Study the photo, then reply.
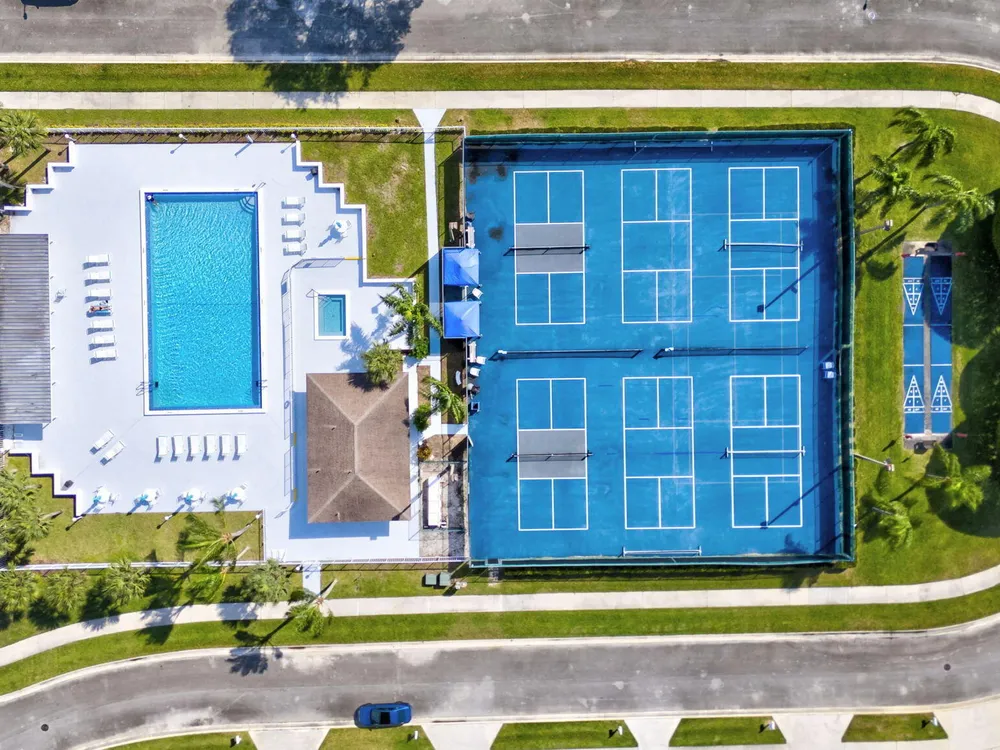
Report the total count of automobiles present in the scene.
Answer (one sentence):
I count 1 automobile.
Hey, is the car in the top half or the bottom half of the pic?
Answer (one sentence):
It is in the bottom half that the car appears.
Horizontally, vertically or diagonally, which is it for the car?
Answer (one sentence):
I'd say the car is aligned horizontally in the picture.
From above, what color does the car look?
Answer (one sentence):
The car looks blue in the image.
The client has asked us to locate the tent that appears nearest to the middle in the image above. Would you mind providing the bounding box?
[444,302,481,340]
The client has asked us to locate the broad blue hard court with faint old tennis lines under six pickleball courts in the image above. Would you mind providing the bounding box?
[446,138,841,558]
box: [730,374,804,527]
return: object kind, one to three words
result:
sports court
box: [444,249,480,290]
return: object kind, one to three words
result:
tent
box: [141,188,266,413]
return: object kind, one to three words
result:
swimming pool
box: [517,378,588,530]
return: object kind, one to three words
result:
sports court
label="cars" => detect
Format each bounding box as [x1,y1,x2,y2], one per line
[356,700,411,729]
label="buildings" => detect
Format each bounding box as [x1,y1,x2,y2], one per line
[306,372,411,523]
[0,229,58,423]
